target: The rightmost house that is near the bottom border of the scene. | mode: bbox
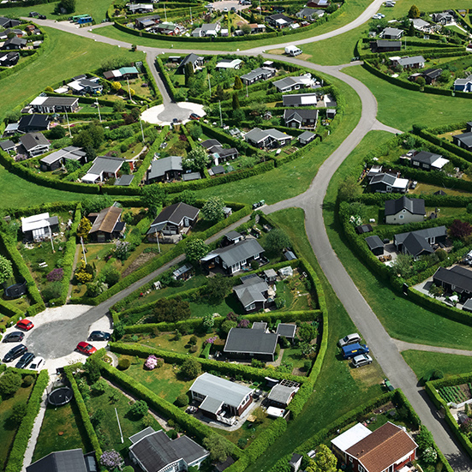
[332,422,417,472]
